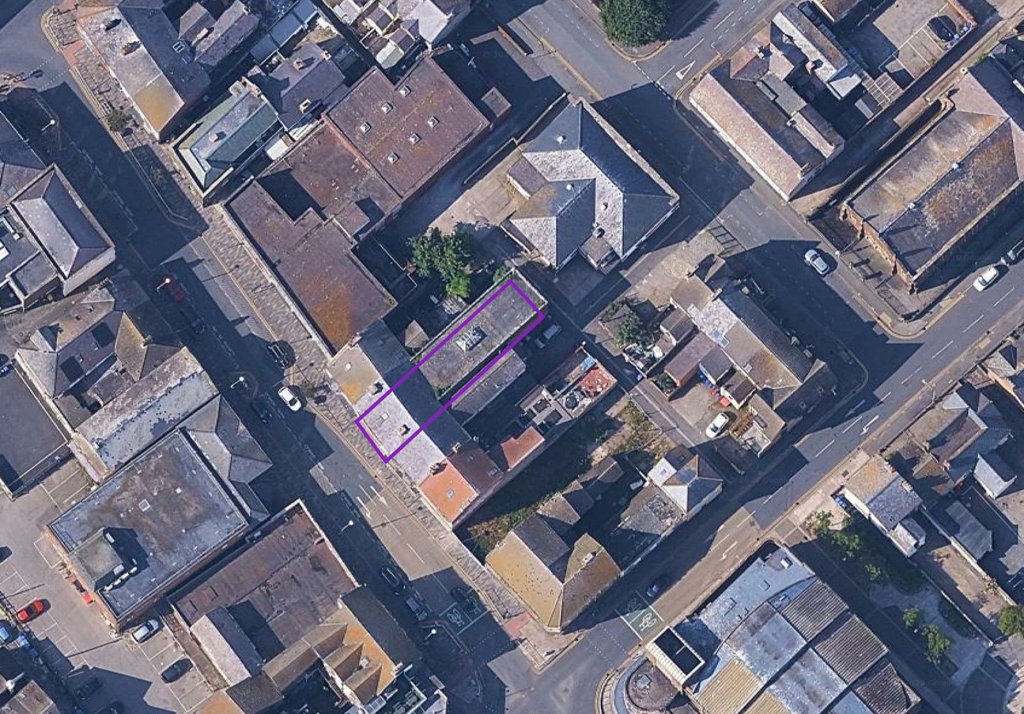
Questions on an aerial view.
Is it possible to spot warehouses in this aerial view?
Yes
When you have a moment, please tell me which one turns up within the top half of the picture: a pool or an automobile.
automobile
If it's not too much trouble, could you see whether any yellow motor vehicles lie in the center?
No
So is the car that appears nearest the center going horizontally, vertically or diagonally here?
diagonally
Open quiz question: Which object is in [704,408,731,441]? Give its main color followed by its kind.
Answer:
white car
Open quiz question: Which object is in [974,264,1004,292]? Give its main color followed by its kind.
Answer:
white car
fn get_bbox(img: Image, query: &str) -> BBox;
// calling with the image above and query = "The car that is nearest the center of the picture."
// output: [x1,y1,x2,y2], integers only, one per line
[531,319,564,351]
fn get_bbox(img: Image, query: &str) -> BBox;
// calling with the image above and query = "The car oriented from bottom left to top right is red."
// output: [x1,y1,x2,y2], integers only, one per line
[15,597,46,623]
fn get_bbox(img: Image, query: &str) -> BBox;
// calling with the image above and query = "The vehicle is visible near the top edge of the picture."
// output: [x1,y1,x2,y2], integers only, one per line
[929,13,957,46]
